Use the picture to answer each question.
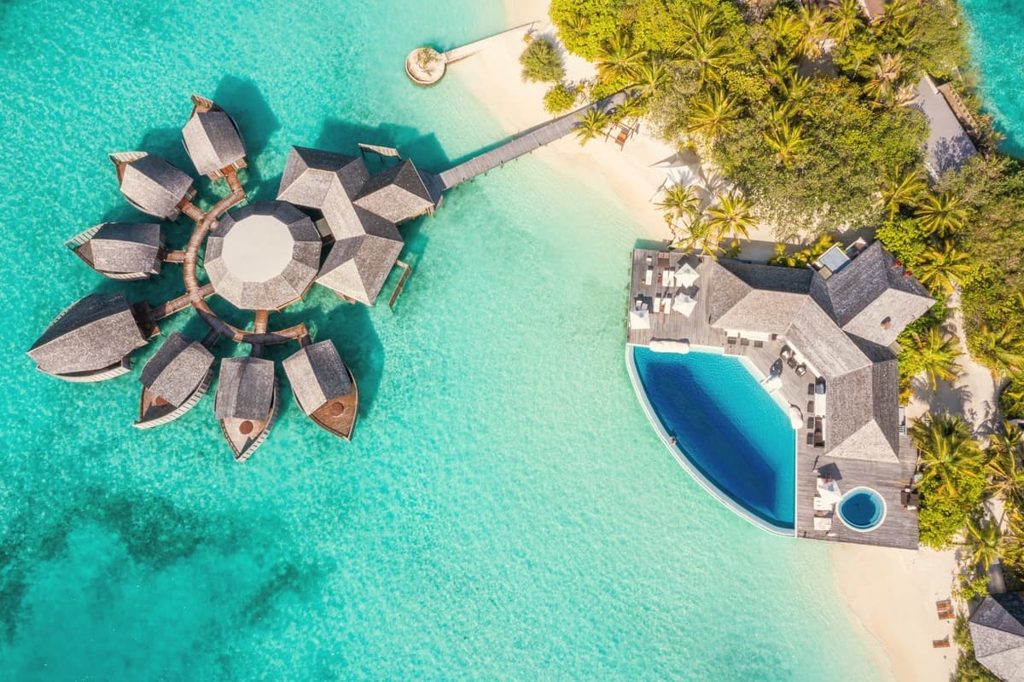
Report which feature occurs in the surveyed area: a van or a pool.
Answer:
pool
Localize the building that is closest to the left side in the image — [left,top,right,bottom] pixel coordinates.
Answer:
[208,202,322,313]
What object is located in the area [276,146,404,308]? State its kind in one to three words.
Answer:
building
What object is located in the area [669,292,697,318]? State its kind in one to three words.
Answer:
umbrella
